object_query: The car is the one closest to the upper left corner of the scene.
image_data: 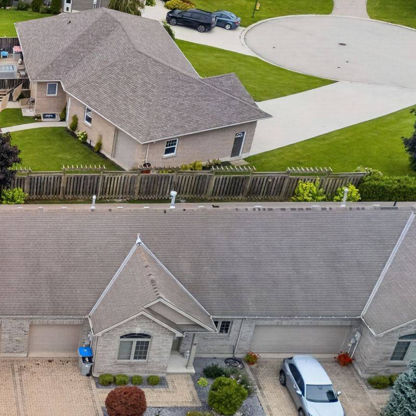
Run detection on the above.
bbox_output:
[170,8,219,32]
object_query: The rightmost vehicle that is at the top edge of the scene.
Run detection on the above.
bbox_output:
[214,11,244,29]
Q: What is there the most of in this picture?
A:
buildings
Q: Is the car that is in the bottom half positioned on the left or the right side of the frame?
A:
right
